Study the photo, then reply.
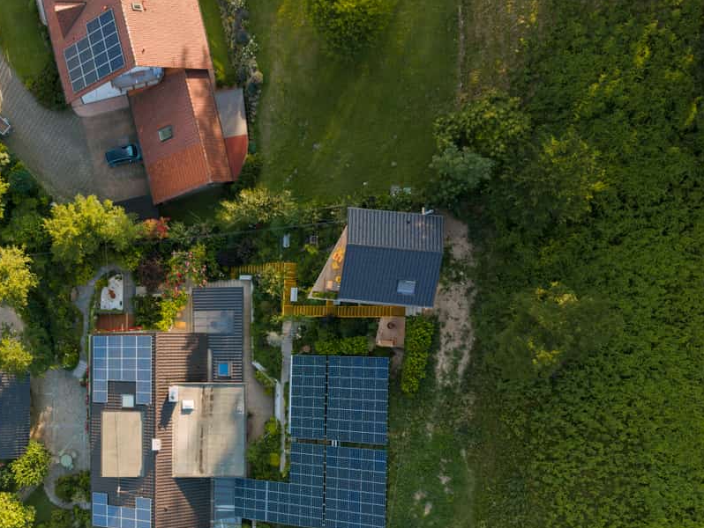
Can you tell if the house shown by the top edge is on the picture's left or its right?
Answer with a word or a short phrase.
left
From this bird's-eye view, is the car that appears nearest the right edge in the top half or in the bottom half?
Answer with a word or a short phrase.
top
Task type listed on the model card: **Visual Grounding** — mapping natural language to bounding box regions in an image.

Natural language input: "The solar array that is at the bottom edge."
[91,493,150,528]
